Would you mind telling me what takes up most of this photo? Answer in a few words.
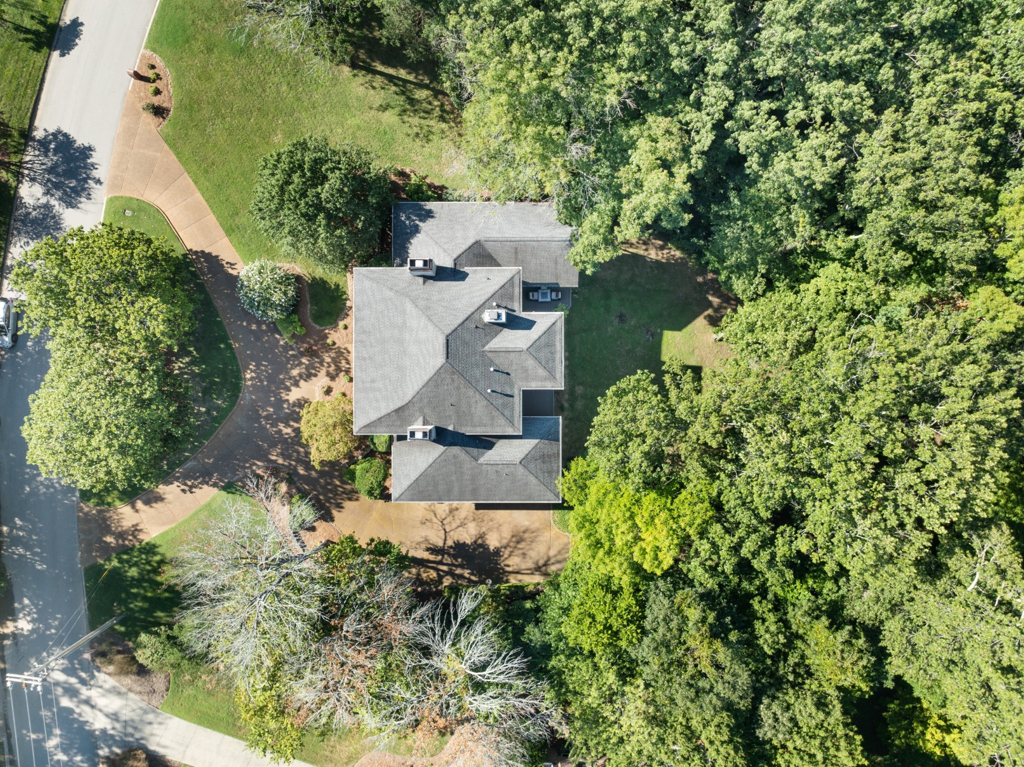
trees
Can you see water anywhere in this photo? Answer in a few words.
No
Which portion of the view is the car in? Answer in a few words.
left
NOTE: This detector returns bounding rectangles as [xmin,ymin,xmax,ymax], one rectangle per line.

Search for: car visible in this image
[0,297,22,350]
